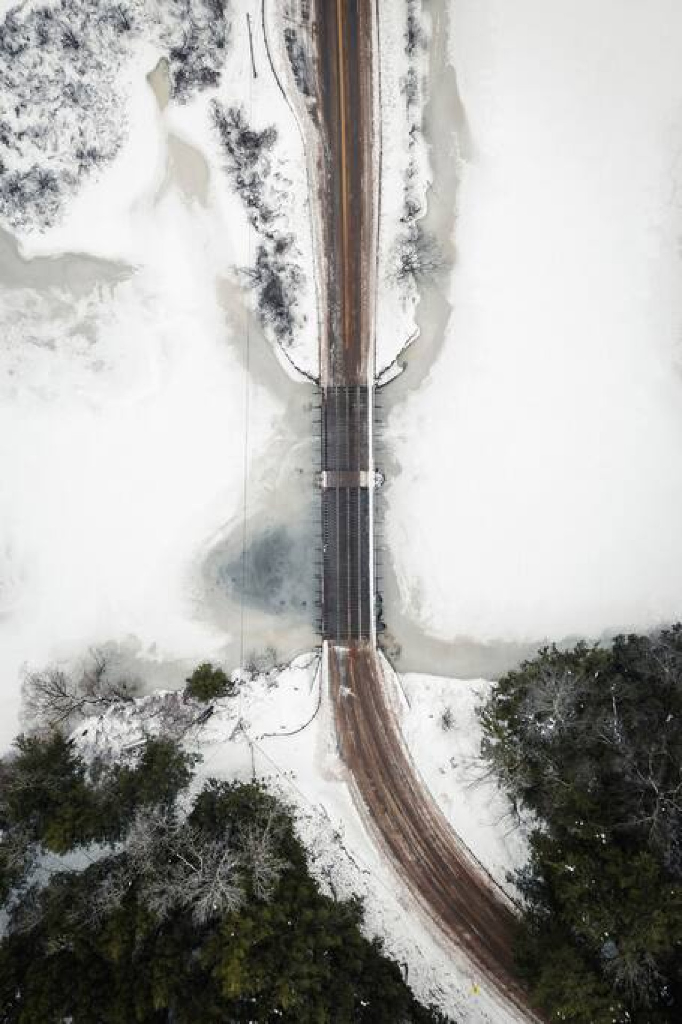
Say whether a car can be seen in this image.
No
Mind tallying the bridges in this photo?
1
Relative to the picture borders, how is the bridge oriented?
from top to bottom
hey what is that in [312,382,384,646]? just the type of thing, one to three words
bridge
